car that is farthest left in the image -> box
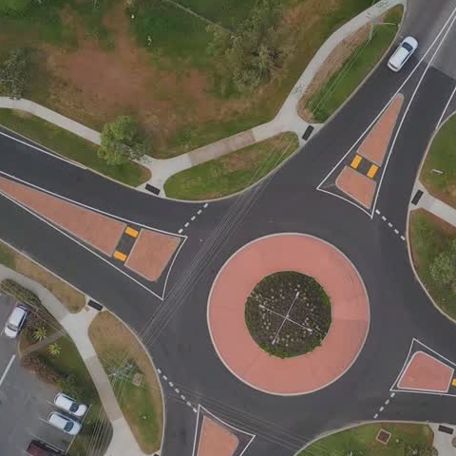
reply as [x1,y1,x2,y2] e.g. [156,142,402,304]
[5,303,30,340]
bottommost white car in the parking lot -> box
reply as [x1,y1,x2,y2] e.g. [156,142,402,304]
[45,408,83,436]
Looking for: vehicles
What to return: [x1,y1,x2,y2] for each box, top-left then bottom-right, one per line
[5,303,30,340]
[387,33,417,74]
[52,391,90,417]
[45,408,83,436]
[23,437,66,456]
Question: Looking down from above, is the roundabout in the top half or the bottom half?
bottom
